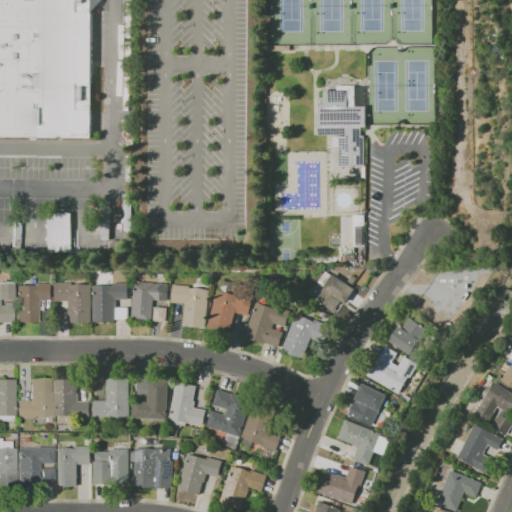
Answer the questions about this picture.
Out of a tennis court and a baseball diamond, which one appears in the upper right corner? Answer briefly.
tennis court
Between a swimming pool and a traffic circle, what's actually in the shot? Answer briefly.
swimming pool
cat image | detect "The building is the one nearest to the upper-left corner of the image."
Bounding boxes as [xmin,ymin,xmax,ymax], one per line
[0,0,104,140]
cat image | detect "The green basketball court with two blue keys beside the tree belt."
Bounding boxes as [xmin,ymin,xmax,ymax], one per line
[270,219,300,262]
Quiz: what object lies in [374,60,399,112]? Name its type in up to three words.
tennis court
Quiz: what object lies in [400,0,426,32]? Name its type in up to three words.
tennis court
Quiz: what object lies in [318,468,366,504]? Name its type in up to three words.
house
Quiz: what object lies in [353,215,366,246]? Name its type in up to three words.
building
